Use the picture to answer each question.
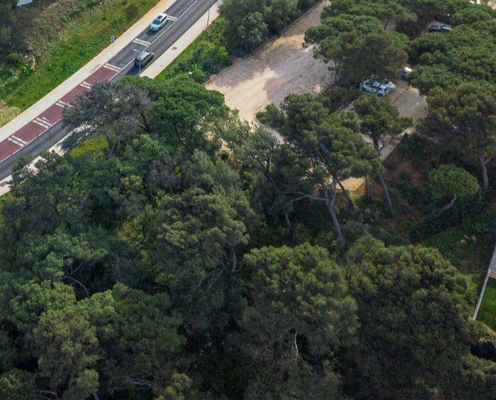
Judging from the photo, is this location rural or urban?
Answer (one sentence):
It looks rural.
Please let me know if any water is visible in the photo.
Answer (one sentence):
No, the scene doesn't show any water.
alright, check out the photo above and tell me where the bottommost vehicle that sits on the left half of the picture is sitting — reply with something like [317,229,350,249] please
[133,52,155,69]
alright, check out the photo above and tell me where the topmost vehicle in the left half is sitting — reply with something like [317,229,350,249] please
[149,13,168,31]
